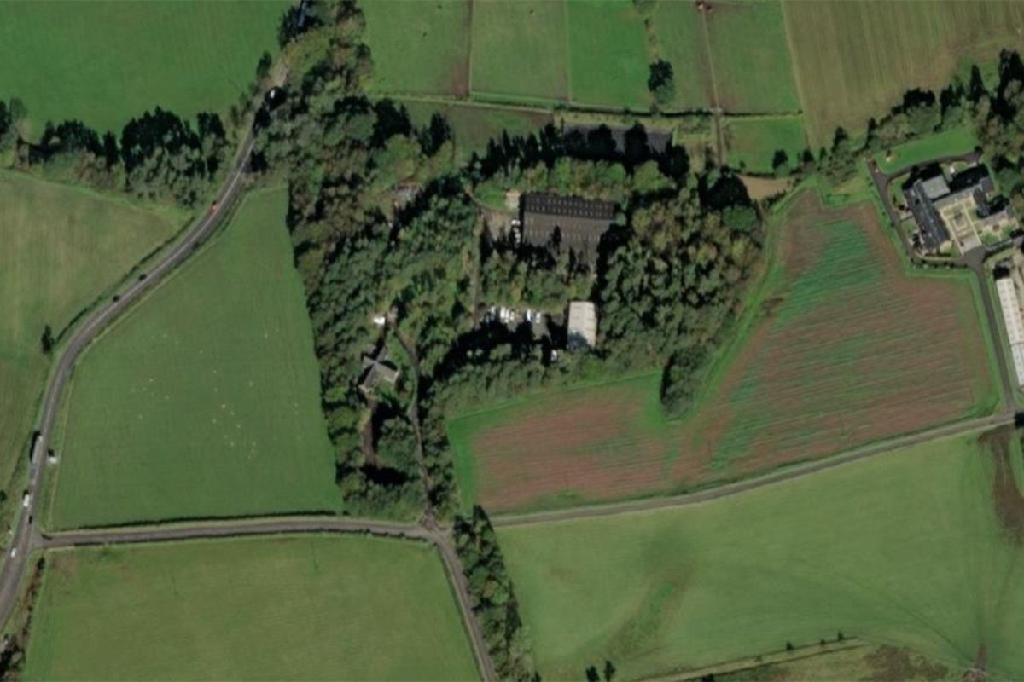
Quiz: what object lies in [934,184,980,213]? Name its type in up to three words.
building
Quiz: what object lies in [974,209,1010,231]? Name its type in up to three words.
building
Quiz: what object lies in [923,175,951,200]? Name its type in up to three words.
shed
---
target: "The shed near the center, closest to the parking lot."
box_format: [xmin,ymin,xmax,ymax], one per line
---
[569,302,595,349]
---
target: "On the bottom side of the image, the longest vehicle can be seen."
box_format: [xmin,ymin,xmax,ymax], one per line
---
[29,438,42,466]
